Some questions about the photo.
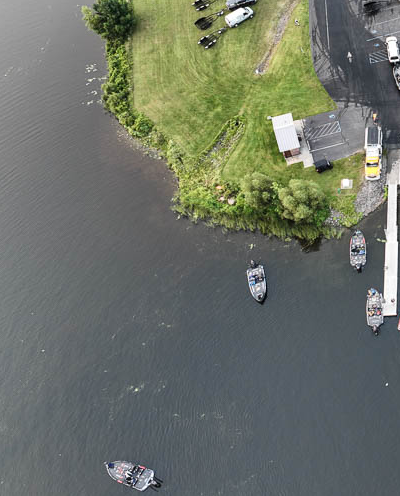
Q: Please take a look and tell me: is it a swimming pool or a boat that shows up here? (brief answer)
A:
boat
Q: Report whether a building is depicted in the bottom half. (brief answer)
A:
No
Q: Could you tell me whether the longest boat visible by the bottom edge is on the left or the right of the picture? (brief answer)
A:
left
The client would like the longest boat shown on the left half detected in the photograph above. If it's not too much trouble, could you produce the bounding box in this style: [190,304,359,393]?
[102,458,163,491]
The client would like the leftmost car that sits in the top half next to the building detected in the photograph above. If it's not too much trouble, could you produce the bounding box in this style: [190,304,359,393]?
[311,158,335,173]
